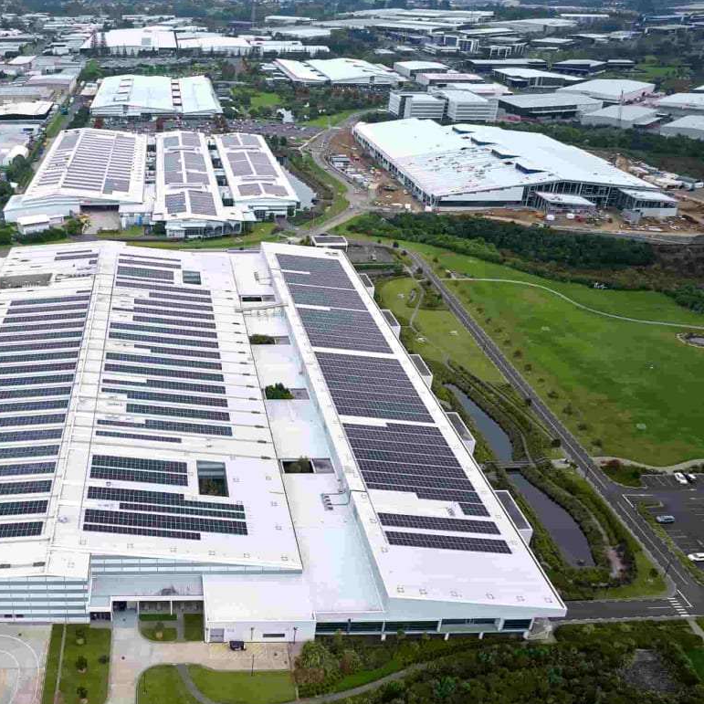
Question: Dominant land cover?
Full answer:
The largest share of the image is taken up by buildings.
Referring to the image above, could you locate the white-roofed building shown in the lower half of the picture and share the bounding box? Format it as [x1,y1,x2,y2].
[0,241,565,645]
